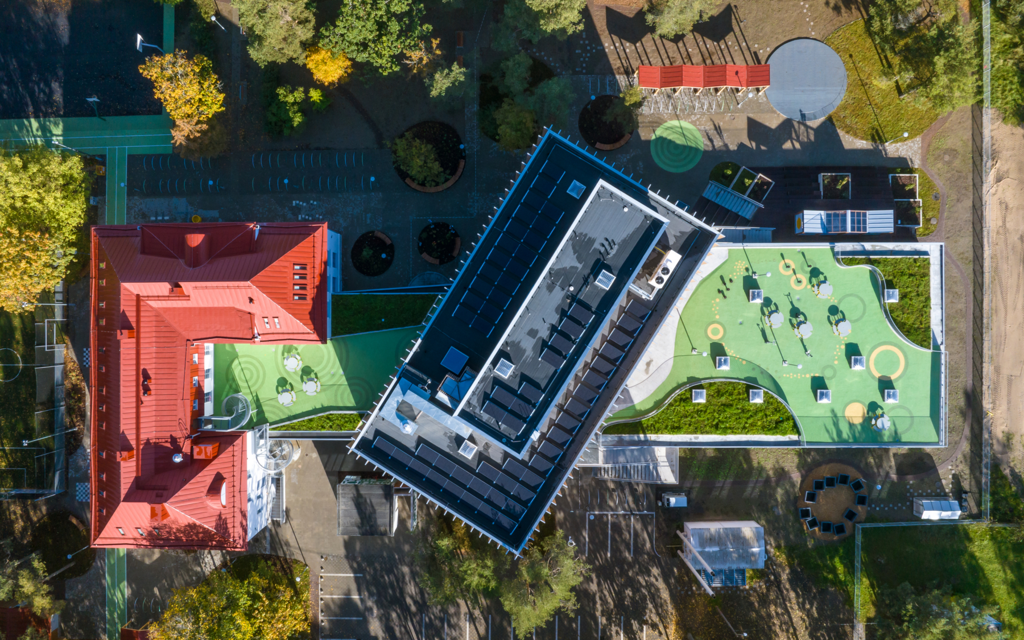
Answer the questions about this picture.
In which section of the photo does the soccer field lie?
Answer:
left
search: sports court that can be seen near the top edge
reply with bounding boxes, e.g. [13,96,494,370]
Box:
[0,0,163,120]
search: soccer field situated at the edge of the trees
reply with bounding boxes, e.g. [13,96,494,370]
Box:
[0,274,65,498]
